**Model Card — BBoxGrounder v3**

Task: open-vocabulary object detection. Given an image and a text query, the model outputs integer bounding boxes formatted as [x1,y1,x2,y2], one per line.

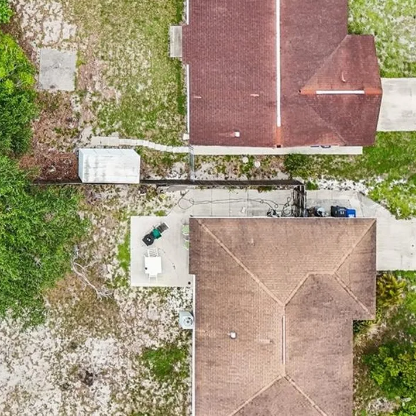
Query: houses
[189,215,376,416]
[182,0,384,149]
